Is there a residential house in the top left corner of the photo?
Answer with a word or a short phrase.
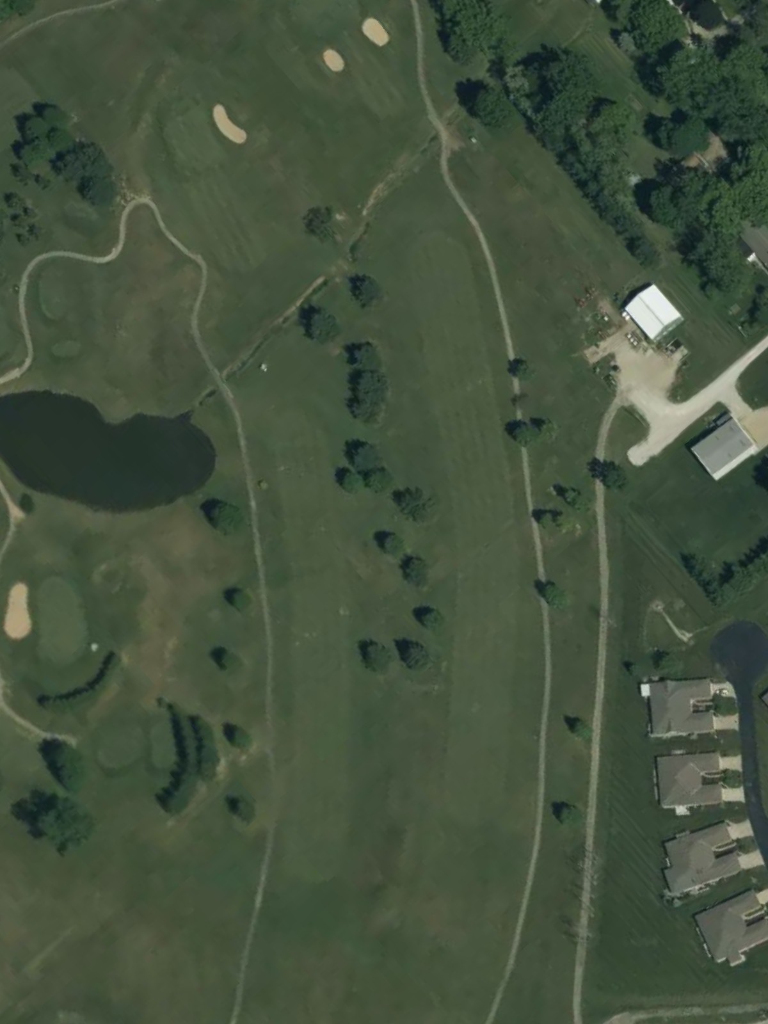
No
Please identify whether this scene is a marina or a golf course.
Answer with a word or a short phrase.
golf course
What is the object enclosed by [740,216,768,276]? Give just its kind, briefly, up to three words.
house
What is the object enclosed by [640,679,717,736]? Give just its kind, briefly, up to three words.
house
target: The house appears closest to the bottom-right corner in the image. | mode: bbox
[694,885,768,962]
